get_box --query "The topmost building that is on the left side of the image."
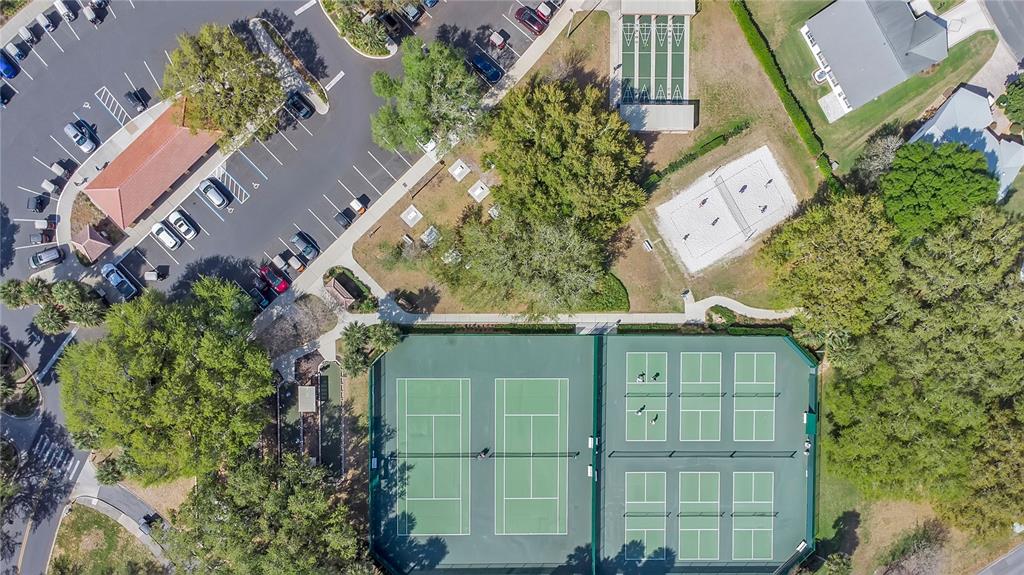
[84,97,226,229]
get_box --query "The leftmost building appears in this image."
[71,224,118,263]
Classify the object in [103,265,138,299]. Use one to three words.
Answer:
truck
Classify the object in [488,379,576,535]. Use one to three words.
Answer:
tennis court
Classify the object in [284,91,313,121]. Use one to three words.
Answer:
car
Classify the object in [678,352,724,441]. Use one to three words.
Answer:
sports court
